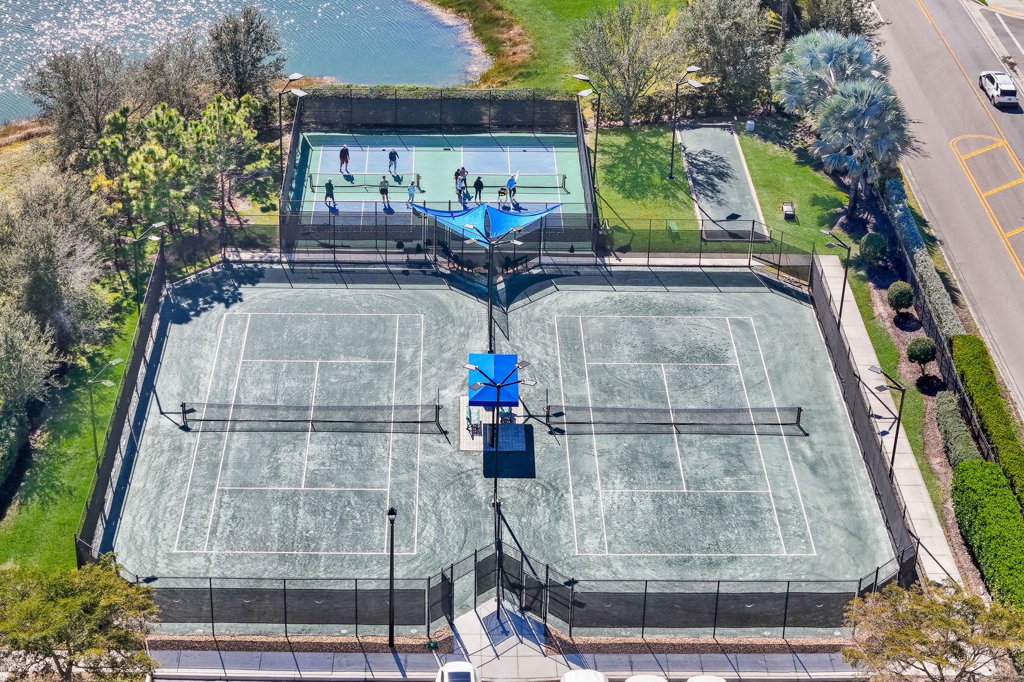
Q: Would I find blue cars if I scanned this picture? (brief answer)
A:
No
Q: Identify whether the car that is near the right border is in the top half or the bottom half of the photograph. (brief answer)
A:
top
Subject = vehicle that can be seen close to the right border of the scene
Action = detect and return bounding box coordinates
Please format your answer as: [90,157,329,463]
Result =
[979,67,1020,99]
